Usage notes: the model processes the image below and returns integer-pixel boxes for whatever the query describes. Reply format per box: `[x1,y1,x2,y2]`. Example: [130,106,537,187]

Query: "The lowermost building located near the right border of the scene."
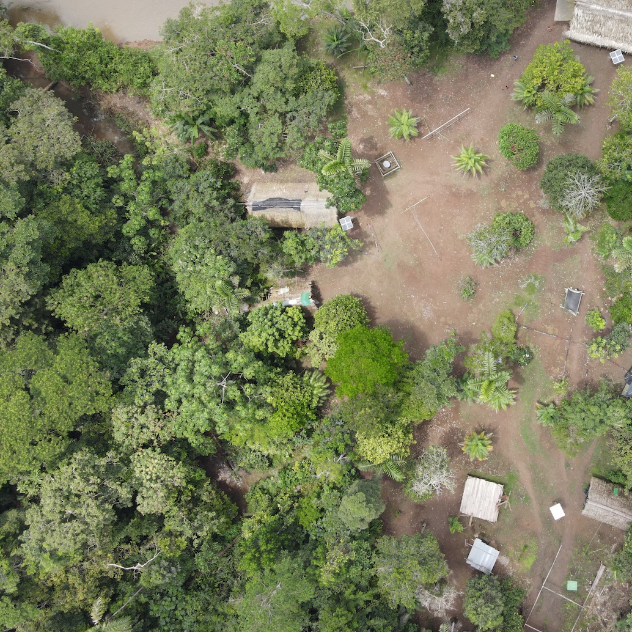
[581,473,632,530]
